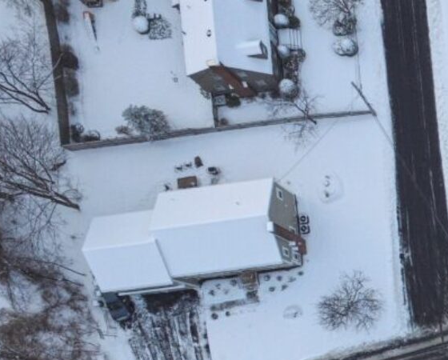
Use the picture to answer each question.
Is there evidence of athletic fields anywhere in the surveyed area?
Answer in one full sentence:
No, the frame has no athletic field in it.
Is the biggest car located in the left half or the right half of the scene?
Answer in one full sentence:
The biggest car is on the left side of the image.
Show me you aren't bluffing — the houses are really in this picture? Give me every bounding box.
[84,178,302,299]
[182,0,312,107]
